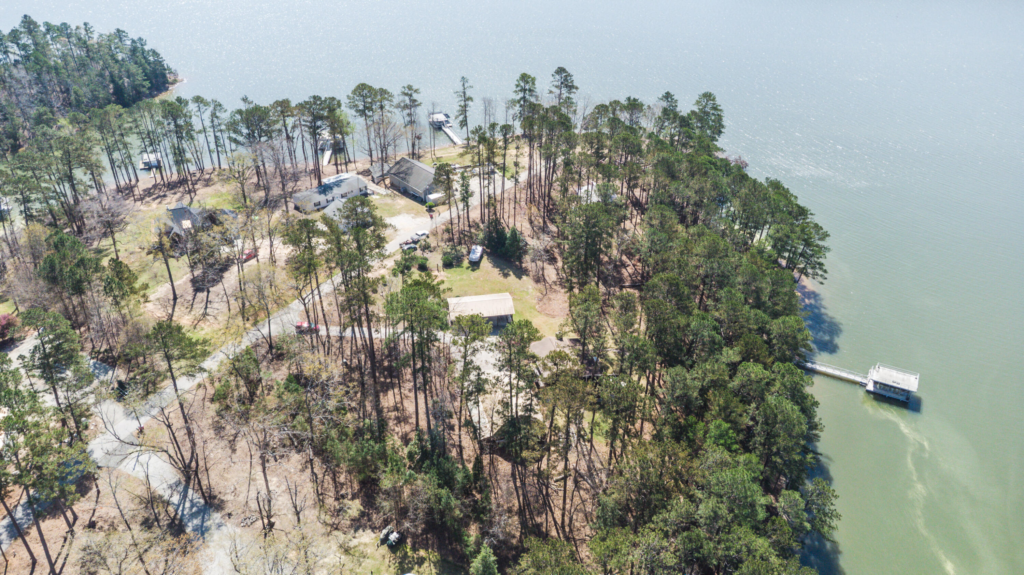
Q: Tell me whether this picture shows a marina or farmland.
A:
marina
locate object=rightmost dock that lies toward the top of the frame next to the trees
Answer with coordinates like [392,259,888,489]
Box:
[428,113,462,143]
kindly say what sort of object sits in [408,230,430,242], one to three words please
vehicle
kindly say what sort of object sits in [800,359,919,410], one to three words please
pier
